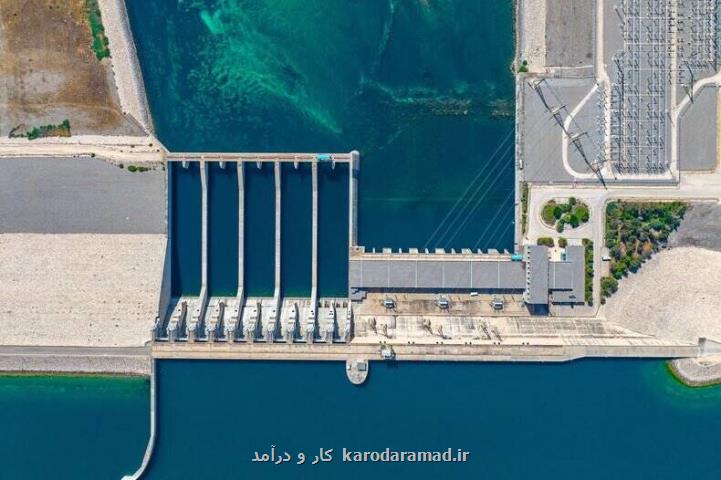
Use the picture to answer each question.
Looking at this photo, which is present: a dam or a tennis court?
dam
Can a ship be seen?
No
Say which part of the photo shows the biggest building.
center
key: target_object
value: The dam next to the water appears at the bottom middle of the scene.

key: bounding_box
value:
[152,313,701,385]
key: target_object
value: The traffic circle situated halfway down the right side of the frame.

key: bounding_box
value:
[541,197,590,232]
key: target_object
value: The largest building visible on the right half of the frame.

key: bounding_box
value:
[349,246,525,299]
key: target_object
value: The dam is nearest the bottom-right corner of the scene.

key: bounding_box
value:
[601,249,721,384]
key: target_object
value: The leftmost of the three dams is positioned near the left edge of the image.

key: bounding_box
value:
[0,233,167,373]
